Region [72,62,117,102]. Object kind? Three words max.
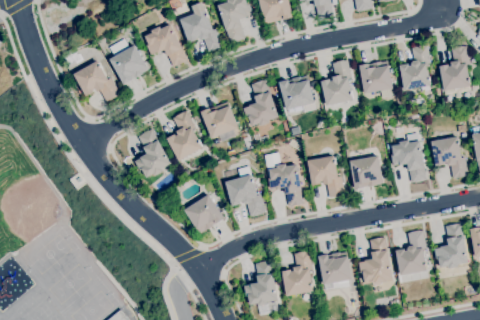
house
